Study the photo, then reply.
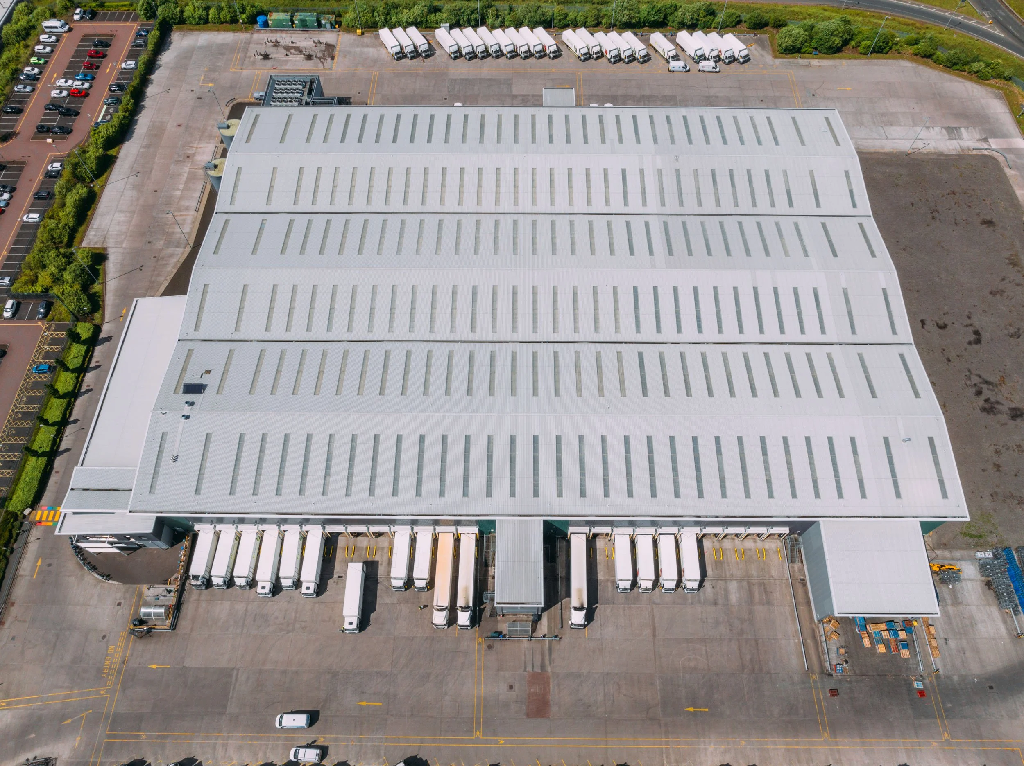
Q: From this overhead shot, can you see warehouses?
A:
Yes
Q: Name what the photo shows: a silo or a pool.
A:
silo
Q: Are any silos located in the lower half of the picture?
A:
No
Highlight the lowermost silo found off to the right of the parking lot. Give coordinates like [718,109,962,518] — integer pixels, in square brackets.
[204,159,226,195]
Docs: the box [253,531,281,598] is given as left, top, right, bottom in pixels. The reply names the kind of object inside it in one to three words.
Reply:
truck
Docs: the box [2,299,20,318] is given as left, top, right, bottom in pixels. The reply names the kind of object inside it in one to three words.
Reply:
car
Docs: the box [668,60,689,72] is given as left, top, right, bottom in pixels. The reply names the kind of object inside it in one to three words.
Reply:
vehicle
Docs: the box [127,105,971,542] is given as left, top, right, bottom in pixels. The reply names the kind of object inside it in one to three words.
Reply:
warehouse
